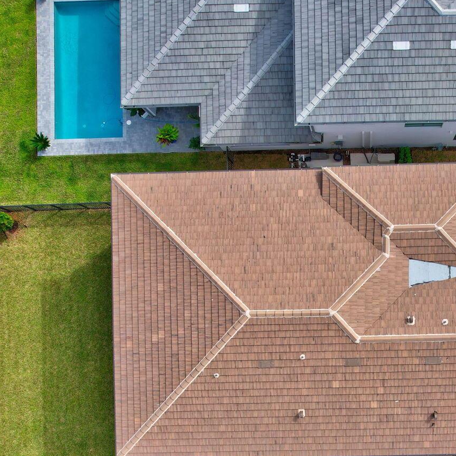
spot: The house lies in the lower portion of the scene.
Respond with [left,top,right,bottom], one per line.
[110,161,456,456]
